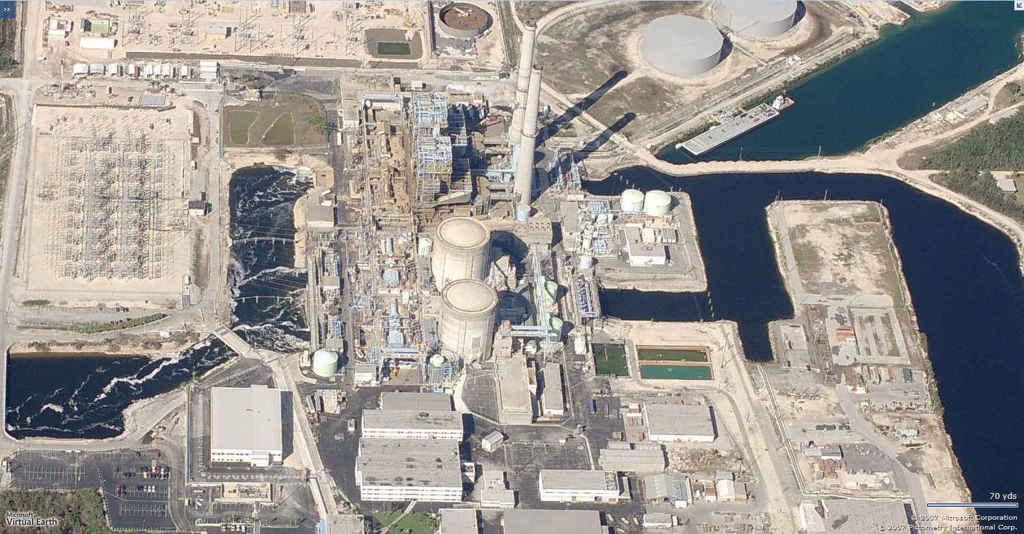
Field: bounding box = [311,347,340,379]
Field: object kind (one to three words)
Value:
water tank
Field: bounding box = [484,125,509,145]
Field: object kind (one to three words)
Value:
house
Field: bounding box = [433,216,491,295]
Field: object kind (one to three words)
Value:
building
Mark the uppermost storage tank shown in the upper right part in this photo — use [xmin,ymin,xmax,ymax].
[715,0,796,37]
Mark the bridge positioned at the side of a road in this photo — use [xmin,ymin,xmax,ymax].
[214,323,262,358]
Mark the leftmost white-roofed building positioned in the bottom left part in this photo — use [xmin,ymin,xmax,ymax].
[210,388,283,467]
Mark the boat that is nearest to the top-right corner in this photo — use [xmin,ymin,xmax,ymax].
[774,90,796,110]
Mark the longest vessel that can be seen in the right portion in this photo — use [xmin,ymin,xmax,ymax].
[682,102,779,156]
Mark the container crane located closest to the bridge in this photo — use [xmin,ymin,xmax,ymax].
[381,346,426,384]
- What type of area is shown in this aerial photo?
port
